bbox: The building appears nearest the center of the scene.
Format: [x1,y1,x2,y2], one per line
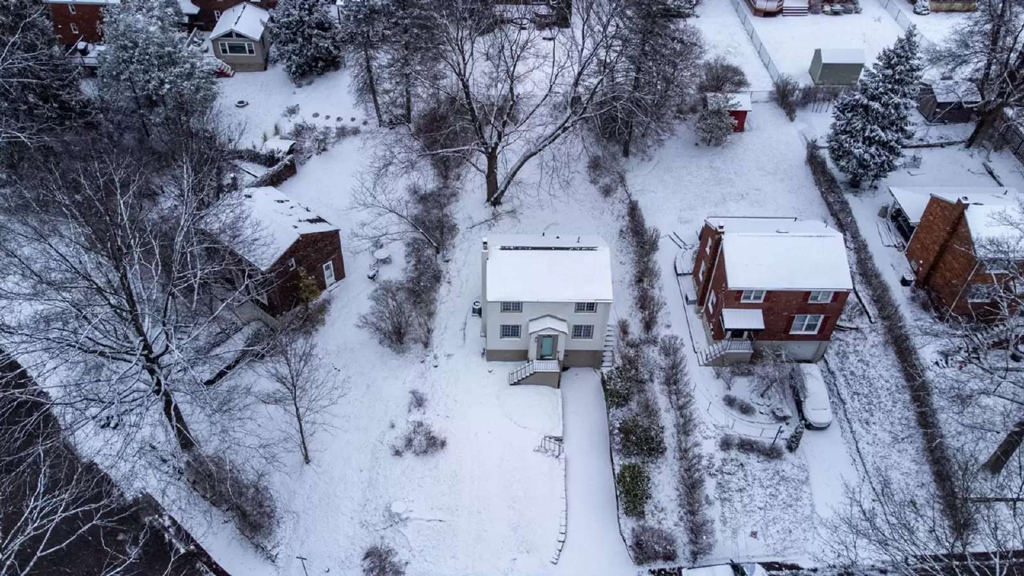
[476,230,614,383]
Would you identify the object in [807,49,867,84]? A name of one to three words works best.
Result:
shed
